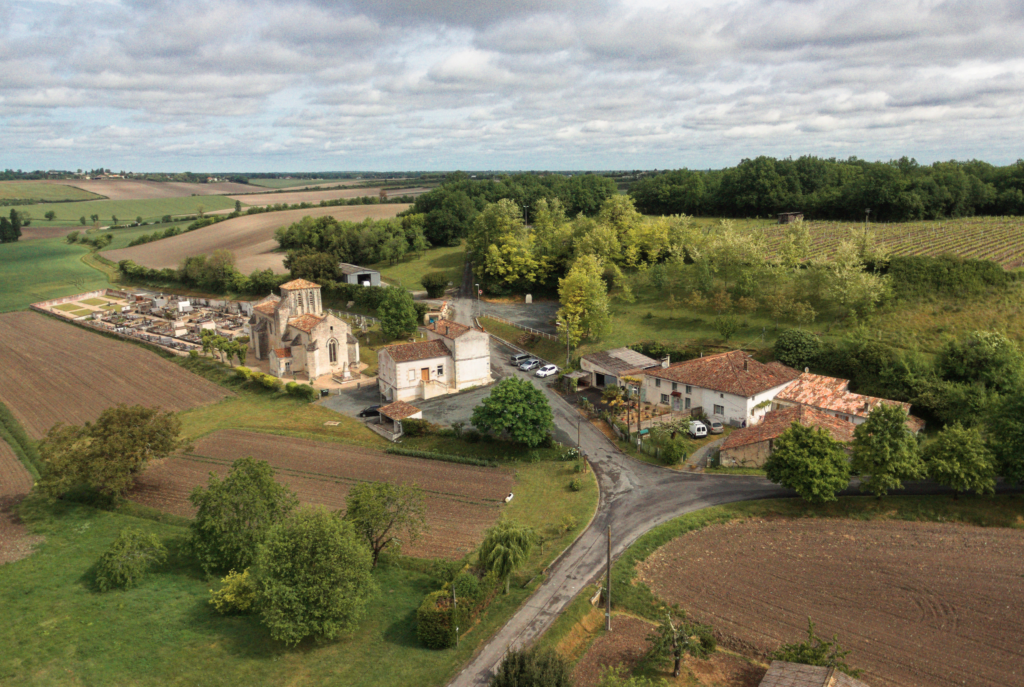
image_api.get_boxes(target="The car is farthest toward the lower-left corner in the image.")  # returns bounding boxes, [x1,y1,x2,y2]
[355,405,382,418]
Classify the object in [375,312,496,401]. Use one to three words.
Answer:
building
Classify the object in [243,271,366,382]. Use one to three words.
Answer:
building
